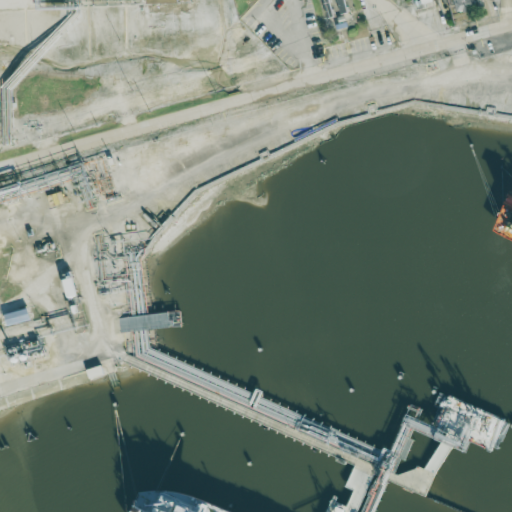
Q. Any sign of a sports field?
No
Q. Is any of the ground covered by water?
Yes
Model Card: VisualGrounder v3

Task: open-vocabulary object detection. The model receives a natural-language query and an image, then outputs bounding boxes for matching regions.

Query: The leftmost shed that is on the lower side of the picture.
[3,306,30,326]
